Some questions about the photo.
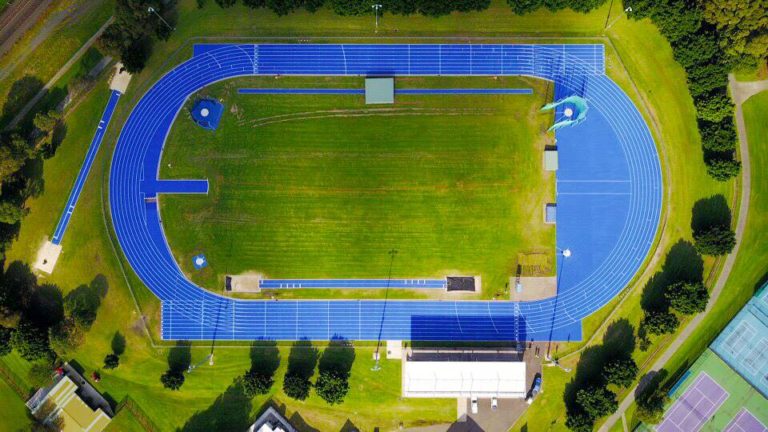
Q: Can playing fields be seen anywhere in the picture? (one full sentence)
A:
Yes, the photo shows a playing field.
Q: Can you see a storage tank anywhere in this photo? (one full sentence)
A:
No, the photo shows no storage tank.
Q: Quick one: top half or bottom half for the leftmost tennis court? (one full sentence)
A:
The leftmost tennis court is in the bottom half of the image.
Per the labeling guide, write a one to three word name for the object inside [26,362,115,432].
building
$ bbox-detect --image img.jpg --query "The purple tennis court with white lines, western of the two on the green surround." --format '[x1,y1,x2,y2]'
[655,371,730,432]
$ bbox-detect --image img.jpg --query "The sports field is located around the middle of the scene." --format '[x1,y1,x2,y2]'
[158,75,558,300]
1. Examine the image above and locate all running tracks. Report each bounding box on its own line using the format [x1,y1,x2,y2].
[109,44,661,340]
